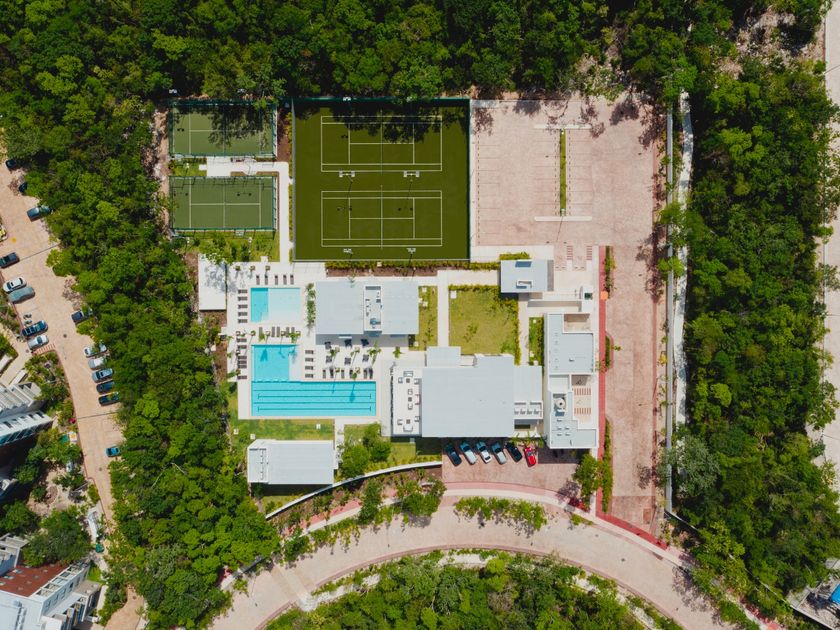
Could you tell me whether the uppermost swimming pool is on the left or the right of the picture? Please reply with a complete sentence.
The uppermost swimming pool appears in the left half of the scene.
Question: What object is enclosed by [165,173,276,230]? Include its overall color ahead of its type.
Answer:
green sports court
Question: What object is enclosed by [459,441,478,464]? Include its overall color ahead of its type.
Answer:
white car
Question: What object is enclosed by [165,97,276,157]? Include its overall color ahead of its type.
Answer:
green sports court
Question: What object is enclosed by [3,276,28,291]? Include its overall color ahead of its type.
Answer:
white car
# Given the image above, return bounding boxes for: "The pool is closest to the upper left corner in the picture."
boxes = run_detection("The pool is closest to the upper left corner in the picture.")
[249,287,302,323]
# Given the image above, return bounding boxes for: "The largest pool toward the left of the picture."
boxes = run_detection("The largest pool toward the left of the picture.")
[250,344,377,418]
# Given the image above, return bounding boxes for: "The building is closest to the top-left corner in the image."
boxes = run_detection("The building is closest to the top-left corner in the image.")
[199,254,227,310]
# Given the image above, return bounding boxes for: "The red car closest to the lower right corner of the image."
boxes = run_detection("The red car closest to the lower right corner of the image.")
[523,444,538,465]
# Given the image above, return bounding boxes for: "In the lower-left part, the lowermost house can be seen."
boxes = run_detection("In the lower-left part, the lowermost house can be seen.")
[0,527,103,630]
